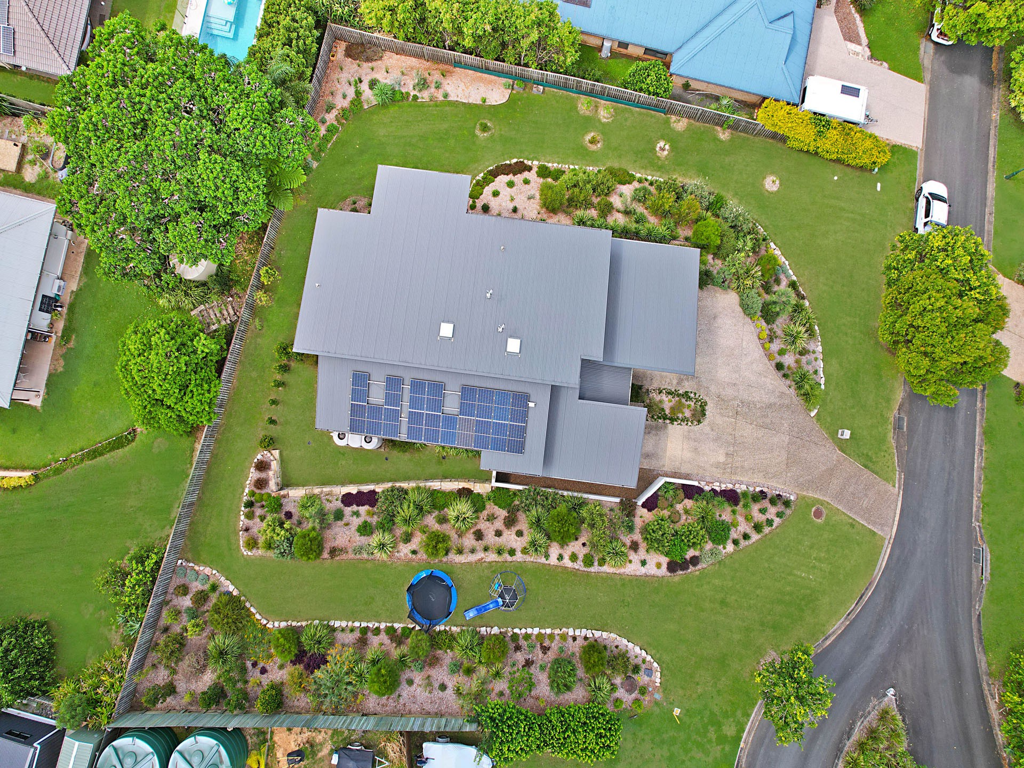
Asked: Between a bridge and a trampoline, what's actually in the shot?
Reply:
trampoline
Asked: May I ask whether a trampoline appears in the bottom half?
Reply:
Yes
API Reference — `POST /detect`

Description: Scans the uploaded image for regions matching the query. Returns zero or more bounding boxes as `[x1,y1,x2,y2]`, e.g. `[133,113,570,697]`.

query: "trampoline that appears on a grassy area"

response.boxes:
[402,569,457,632]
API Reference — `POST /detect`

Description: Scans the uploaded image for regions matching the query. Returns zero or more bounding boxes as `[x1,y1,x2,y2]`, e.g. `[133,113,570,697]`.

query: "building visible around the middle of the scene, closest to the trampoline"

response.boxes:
[292,163,701,490]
